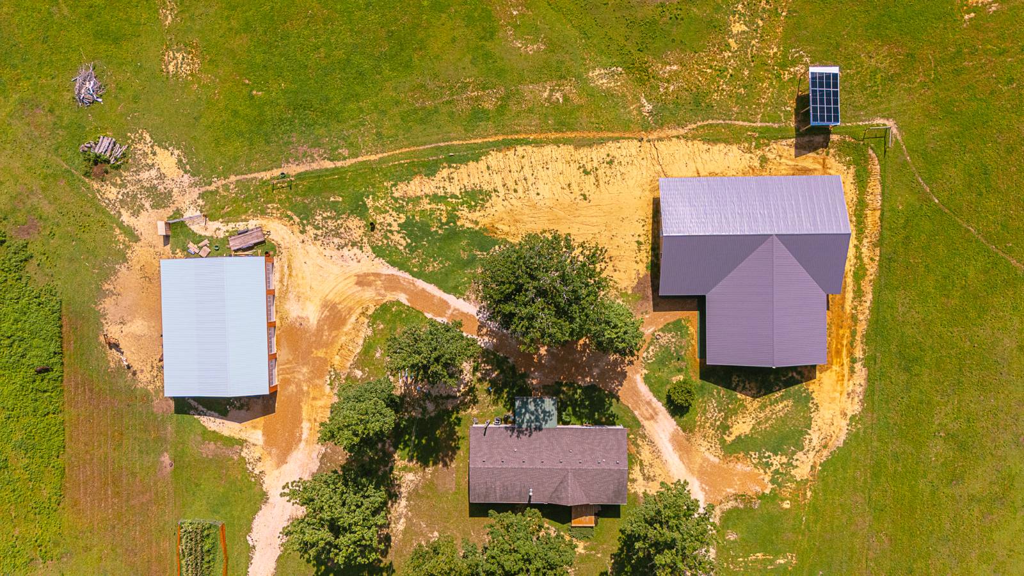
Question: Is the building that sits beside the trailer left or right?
left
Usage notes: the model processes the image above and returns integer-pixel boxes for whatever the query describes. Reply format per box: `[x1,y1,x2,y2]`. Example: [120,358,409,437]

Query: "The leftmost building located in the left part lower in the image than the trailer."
[160,258,280,394]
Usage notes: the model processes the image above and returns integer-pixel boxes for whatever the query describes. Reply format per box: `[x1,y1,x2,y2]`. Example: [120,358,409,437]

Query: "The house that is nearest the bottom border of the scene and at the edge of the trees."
[469,388,629,507]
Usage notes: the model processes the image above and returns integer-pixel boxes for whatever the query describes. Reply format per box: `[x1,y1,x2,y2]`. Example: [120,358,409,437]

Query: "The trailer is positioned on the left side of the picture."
[225,224,270,253]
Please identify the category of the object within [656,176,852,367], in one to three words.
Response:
barn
